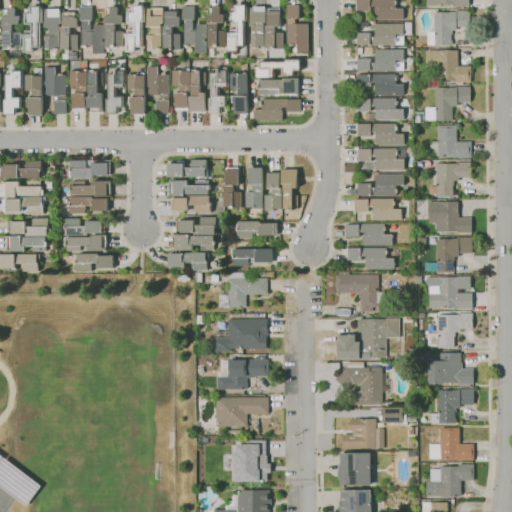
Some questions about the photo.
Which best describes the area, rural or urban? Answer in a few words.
urban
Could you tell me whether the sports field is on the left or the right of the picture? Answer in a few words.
left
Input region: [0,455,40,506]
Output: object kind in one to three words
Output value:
building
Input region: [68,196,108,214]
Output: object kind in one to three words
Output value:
house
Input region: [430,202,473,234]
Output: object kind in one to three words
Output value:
house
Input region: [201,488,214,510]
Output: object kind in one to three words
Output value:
swimming pool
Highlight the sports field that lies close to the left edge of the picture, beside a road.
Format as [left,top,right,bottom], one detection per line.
[0,294,174,512]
